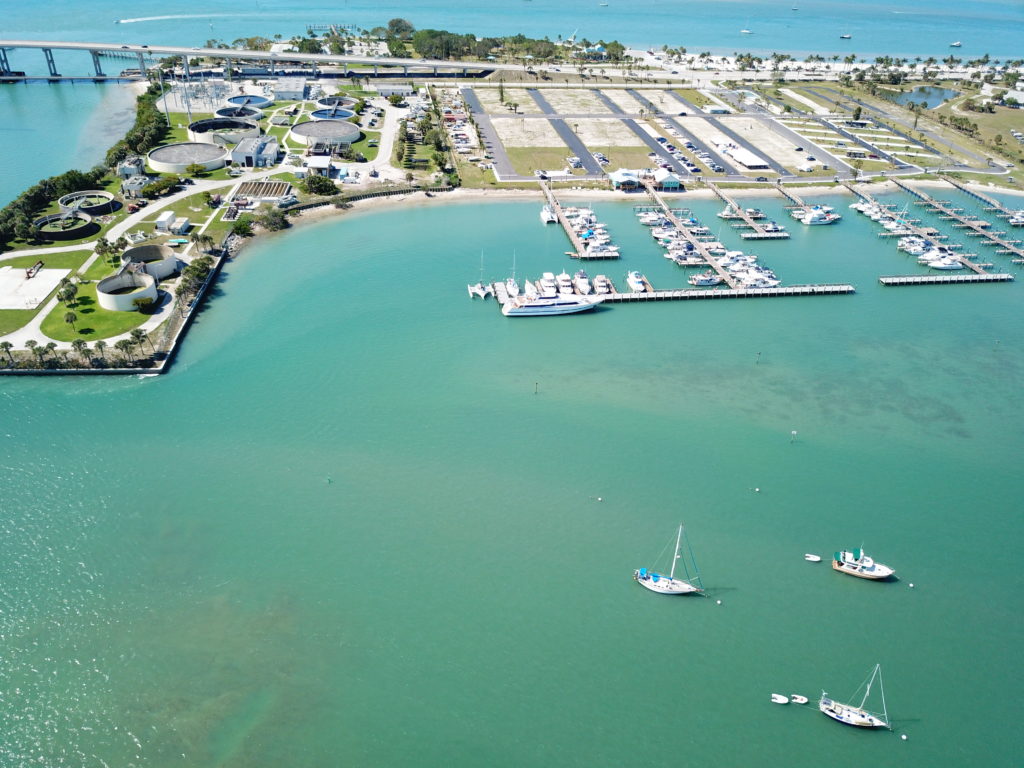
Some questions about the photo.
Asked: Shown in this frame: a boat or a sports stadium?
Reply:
boat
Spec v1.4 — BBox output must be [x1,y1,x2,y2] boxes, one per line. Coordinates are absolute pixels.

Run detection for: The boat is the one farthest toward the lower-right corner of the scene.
[820,664,899,736]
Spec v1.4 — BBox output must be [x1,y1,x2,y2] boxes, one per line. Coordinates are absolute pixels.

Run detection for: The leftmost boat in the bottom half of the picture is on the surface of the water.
[634,523,701,596]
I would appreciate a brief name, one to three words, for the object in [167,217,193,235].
shed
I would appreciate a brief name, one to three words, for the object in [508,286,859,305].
pier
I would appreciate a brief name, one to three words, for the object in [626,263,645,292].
boat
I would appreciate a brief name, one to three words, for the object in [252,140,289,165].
building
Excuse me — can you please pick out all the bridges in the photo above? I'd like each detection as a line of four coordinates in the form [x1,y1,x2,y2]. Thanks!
[0,38,492,82]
